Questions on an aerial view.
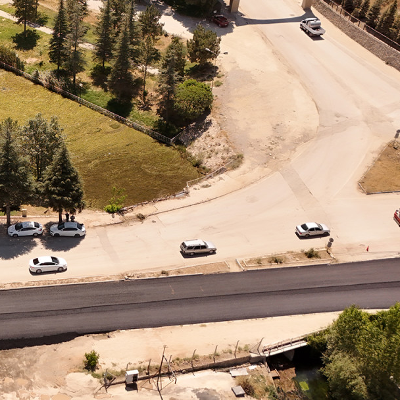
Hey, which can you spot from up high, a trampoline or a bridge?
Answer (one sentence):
Of the two, only a bridge appears.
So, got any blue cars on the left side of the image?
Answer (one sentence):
No, no blue car is visible on the left side of the image.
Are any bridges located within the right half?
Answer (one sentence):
Yes, a bridge can be seen within the right half.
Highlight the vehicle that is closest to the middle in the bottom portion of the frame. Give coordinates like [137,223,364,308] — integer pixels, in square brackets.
[179,239,218,256]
